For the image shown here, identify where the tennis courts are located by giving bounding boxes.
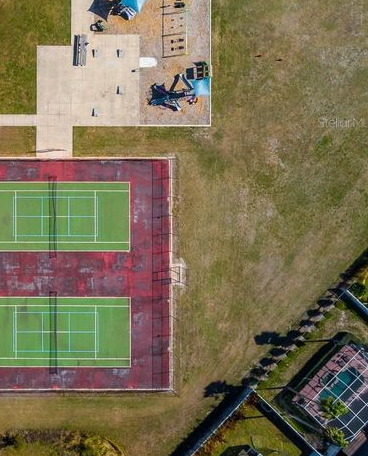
[0,178,131,256]
[0,293,131,372]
